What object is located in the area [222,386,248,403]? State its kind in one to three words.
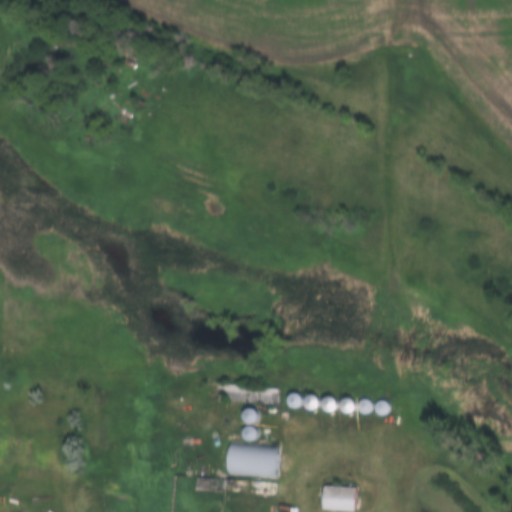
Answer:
shed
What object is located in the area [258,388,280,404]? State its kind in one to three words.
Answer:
shed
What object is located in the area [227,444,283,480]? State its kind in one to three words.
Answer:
barn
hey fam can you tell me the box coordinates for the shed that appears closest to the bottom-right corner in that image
[322,486,358,512]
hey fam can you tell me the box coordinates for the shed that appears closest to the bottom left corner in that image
[197,478,228,493]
